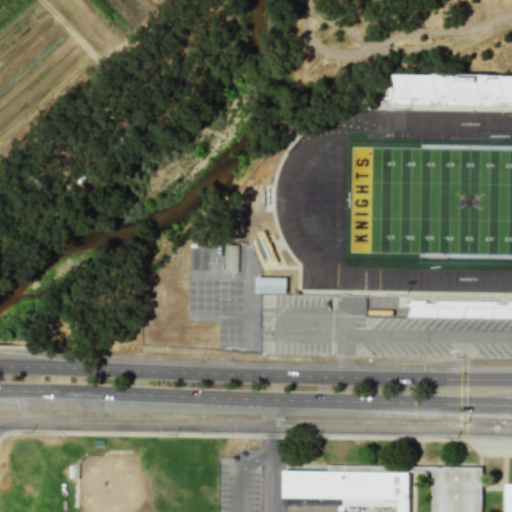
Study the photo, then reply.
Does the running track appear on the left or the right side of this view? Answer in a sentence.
You can find the running track on the right side of the picture.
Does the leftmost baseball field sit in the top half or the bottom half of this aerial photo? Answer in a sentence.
The leftmost baseball field sits in the bottom half of the picture.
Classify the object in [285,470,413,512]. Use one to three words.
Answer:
building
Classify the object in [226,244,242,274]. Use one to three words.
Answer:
building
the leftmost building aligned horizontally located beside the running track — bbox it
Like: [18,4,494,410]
[256,278,290,293]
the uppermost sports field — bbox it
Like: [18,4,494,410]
[348,132,512,269]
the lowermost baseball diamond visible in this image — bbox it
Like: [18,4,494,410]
[74,450,152,512]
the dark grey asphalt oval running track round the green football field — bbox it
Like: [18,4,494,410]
[278,111,512,290]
